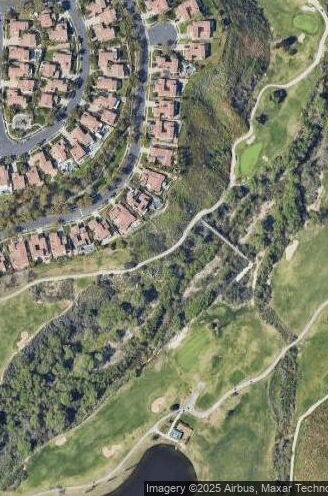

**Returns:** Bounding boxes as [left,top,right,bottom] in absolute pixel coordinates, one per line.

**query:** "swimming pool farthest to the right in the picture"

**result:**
[183,61,198,78]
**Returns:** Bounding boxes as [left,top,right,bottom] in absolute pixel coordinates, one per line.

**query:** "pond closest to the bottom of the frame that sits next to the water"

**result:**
[123,443,198,496]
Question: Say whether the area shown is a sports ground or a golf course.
golf course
